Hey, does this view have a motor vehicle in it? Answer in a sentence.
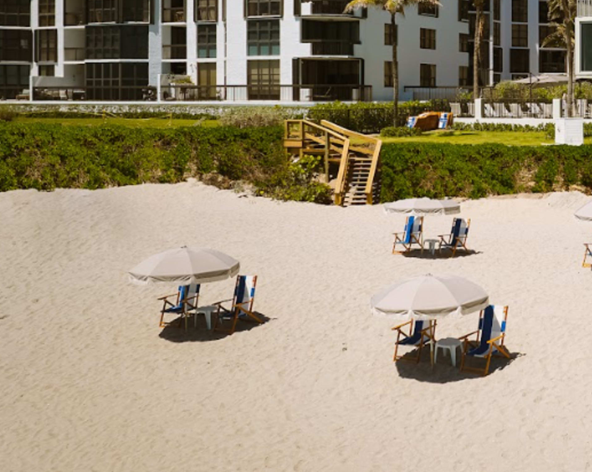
No, I find no motor vehicle anywhere in the image.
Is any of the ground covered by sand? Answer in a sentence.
Yes, the picture does contain sand.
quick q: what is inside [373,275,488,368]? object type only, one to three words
umbrella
